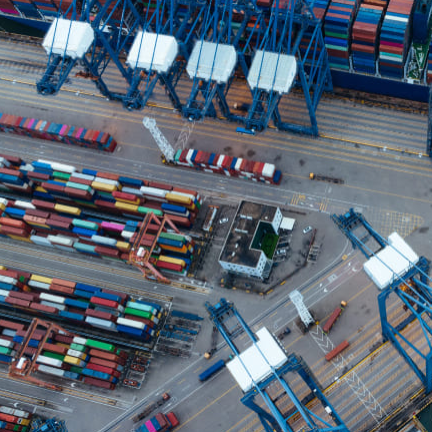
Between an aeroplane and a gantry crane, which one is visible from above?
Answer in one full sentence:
Visible in the photo is a gantry crane.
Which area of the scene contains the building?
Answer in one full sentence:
The building appears toward the center of the photo.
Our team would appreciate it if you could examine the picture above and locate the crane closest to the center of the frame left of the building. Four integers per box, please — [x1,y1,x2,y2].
[127,210,191,280]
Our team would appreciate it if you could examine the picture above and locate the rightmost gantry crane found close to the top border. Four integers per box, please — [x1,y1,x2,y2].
[242,0,332,137]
